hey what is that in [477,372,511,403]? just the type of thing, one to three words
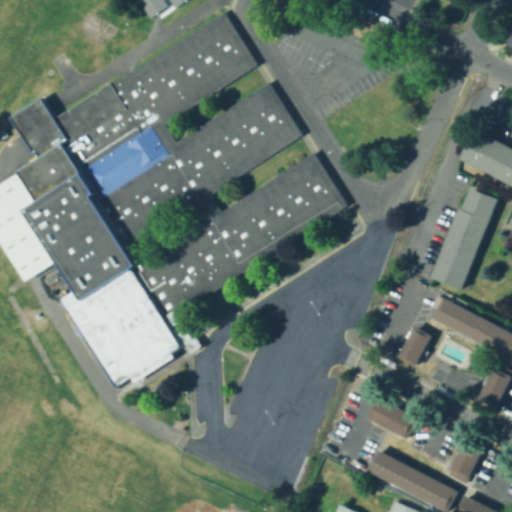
building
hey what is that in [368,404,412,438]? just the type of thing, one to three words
building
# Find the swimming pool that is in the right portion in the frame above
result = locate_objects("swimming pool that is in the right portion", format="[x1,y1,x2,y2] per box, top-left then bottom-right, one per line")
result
[436,335,476,370]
